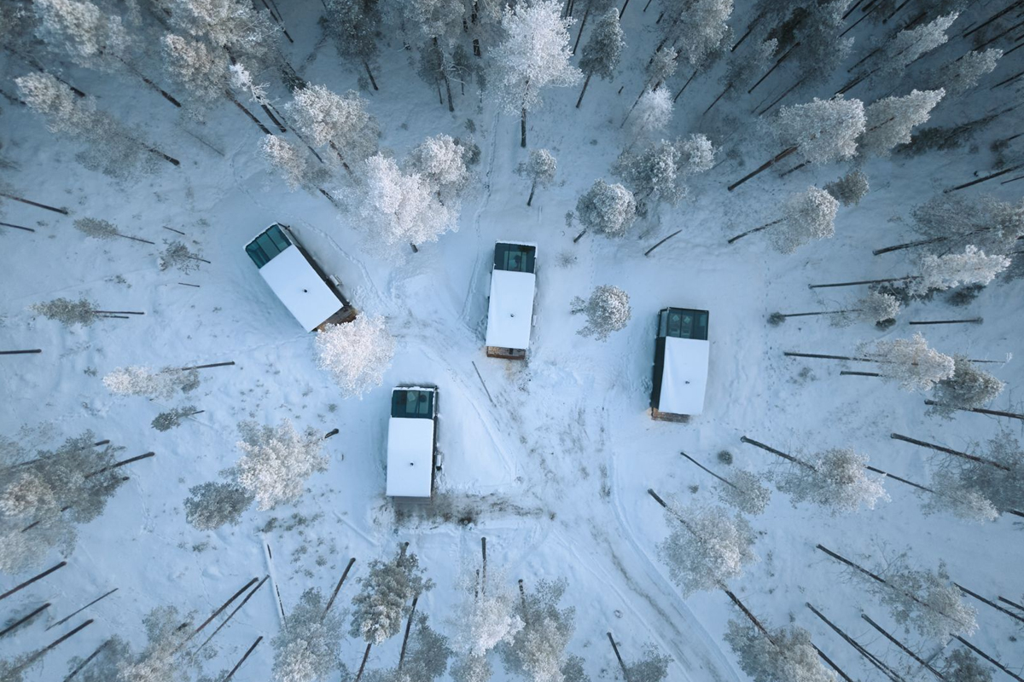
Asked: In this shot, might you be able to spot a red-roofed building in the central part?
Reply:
No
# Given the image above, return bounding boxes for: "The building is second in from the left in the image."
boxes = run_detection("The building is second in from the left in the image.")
[387,385,439,502]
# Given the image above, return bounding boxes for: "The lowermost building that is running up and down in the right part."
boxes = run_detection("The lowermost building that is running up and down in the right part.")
[653,305,710,425]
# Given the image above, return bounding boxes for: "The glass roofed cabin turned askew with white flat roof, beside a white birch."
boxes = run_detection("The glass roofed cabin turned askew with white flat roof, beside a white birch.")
[246,222,357,340]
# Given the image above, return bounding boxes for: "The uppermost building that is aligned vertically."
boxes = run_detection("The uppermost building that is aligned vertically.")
[485,239,539,362]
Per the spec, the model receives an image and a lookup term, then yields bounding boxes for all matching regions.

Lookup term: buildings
[653,305,710,425]
[485,239,539,362]
[387,385,439,502]
[246,222,357,340]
